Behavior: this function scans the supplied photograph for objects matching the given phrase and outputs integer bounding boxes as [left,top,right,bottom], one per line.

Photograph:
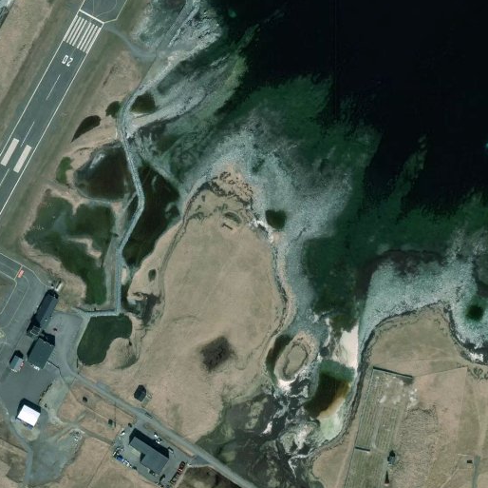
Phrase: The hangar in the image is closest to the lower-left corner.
[17,404,40,426]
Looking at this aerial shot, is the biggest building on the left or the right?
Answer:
left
